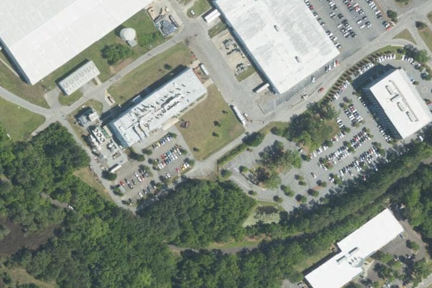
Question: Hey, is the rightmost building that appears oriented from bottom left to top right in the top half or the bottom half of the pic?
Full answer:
The rightmost building that appears oriented from bottom left to top right sits in the bottom half of the picture.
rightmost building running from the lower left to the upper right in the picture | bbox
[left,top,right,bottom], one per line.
[306,208,403,288]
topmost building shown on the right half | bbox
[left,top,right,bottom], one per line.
[213,0,339,93]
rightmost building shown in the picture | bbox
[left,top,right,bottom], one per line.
[368,68,432,139]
